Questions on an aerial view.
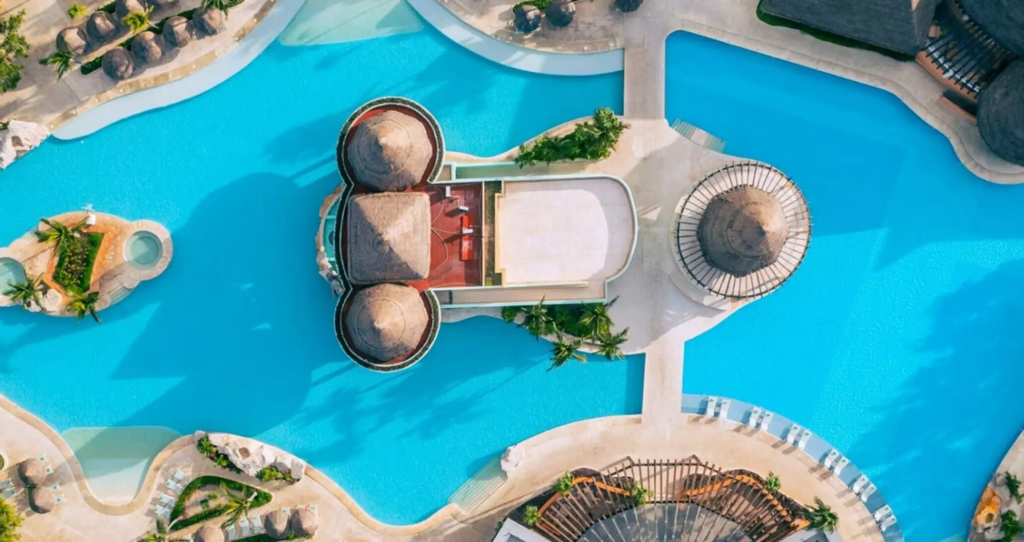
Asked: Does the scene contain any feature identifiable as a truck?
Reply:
No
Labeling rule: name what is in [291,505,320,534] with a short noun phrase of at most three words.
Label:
umbrella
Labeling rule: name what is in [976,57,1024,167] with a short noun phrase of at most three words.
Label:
building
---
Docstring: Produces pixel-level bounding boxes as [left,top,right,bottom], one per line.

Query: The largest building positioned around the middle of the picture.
[334,96,637,372]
